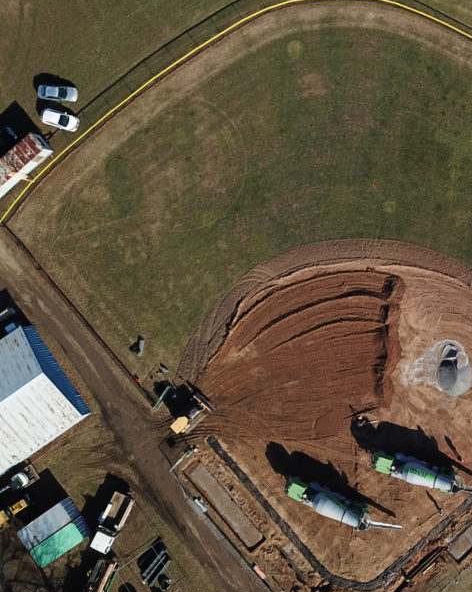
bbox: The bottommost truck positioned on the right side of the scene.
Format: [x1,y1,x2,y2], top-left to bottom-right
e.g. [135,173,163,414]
[279,470,403,533]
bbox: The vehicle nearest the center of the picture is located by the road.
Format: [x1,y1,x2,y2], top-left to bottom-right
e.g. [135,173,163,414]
[168,391,215,439]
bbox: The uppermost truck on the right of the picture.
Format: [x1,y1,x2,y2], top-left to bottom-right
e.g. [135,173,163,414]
[369,444,472,491]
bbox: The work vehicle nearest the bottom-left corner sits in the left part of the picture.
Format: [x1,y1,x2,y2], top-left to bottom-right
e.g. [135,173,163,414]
[0,491,36,525]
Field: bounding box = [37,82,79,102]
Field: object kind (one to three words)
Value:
car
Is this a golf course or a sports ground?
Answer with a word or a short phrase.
sports ground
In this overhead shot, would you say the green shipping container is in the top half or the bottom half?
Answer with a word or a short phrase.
bottom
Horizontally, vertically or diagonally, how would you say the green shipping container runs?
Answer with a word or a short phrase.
diagonally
